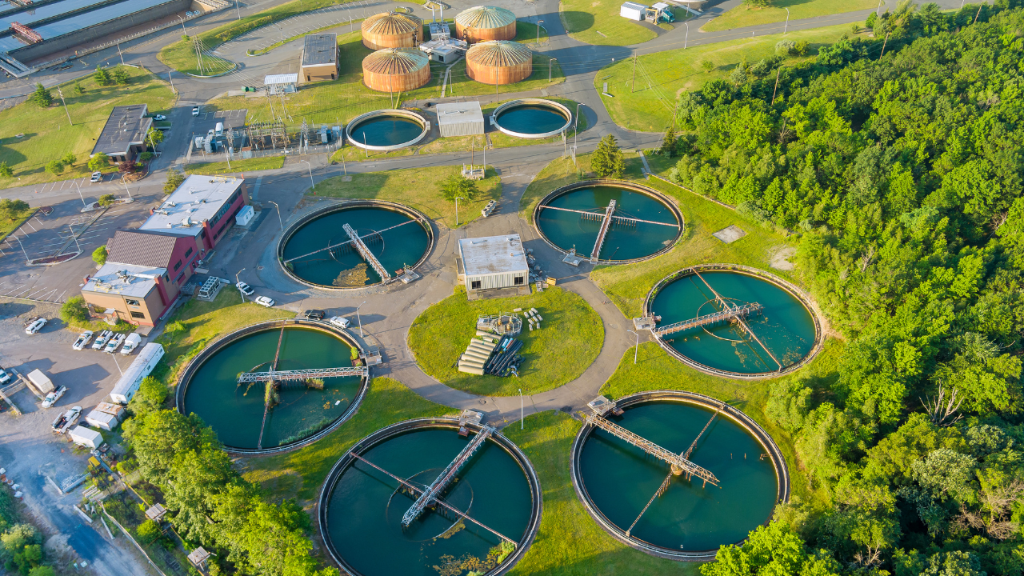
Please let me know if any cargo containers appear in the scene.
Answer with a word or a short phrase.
Yes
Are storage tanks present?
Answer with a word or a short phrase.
Yes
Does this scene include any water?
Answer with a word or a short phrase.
Yes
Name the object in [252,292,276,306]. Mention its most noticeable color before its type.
white car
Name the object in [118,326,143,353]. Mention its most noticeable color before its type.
white truck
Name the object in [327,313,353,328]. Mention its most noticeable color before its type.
white car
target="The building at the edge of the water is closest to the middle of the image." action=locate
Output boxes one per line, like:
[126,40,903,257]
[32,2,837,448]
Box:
[452,233,531,304]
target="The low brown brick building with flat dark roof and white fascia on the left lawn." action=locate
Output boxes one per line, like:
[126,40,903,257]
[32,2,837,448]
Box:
[95,103,153,166]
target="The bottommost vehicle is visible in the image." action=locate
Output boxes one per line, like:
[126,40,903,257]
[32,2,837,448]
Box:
[81,452,102,474]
